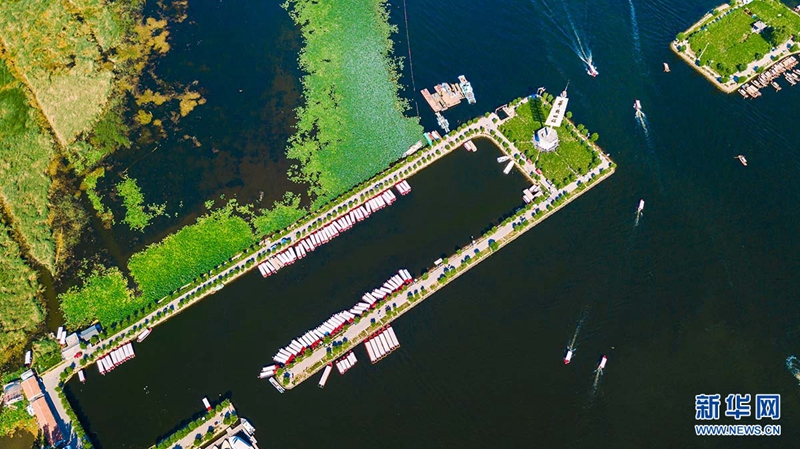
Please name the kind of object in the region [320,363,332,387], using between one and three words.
boat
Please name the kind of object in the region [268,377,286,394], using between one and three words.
boat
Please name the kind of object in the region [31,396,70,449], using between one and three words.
building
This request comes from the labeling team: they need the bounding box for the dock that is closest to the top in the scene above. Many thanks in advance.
[421,88,463,112]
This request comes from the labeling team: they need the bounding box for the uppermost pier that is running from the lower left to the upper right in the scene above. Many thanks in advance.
[277,178,593,390]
